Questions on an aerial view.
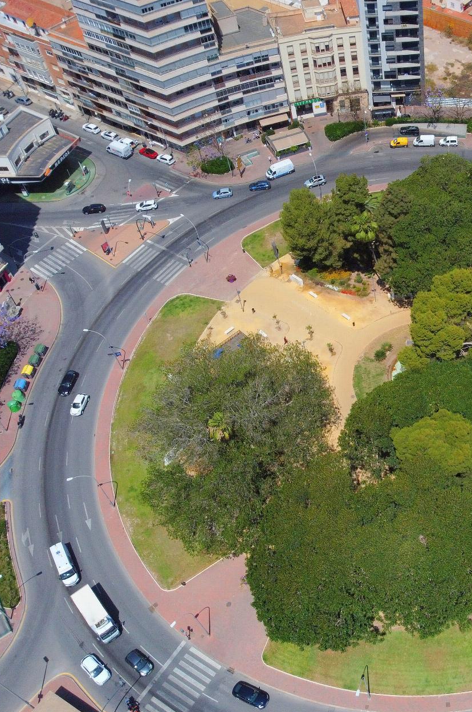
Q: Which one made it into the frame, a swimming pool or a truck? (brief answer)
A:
truck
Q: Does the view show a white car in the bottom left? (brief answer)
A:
Yes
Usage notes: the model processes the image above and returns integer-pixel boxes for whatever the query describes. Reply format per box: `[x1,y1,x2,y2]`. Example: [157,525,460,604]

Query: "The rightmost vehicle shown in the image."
[438,136,459,148]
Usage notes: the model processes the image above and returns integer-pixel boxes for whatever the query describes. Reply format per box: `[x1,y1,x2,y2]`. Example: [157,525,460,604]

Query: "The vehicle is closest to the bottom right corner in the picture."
[231,683,269,708]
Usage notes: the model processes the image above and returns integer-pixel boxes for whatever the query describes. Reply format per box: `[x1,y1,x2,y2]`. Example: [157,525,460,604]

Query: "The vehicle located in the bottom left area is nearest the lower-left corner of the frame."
[80,653,110,687]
